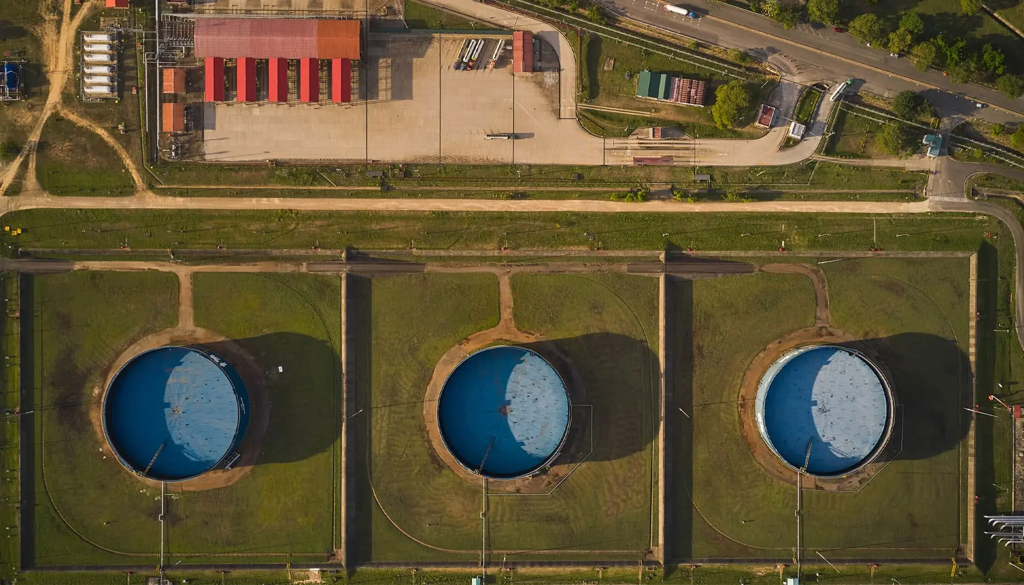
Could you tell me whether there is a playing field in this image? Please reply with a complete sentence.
No, I find no playing field anywhere in the image.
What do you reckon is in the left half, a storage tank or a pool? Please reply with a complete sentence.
The feature located in the left half is a storage tank.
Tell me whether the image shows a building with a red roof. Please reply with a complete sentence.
Yes, there's a building with a red roof here.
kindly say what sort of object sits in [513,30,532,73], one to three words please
building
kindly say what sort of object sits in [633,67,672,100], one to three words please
building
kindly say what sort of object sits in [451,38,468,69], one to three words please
vehicle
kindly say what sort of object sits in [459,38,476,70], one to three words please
vehicle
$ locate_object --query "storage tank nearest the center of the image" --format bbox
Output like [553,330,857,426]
[435,342,573,482]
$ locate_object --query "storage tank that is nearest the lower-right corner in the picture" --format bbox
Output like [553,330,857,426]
[752,342,897,480]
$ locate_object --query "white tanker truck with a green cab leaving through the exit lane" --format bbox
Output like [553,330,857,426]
[830,75,856,101]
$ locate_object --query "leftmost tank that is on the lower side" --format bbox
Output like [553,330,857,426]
[100,342,250,484]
